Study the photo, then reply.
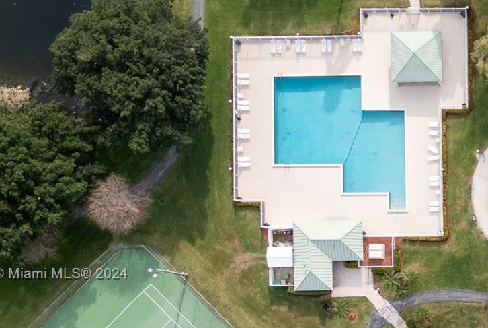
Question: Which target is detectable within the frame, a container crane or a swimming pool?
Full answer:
The image shows a swimming pool.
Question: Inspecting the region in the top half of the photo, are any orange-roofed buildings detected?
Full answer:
No, the scene shows no orange-roofed building in the top half of the photo.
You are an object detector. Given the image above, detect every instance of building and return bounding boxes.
[293,221,363,291]
[390,29,443,87]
